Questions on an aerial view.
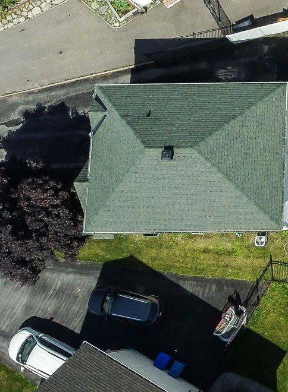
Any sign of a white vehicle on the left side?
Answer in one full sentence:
Yes, I can see a white vehicle on the left side.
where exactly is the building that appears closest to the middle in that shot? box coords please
[74,81,288,245]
